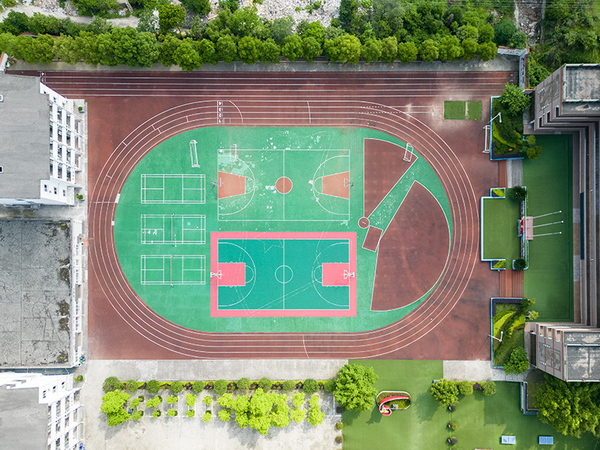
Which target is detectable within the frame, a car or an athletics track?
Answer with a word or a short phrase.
athletics track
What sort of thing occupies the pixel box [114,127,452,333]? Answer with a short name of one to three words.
sports field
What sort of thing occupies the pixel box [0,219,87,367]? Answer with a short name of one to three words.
building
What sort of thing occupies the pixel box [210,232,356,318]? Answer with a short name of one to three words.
basketball court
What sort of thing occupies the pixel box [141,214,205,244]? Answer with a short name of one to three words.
sports court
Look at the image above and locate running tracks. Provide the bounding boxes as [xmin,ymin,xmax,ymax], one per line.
[24,71,519,359]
